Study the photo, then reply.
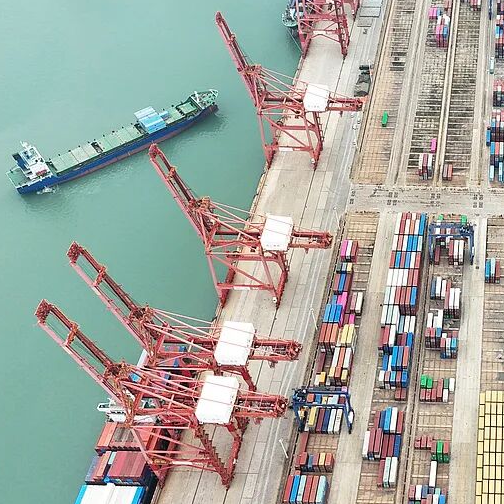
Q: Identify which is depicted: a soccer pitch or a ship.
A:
ship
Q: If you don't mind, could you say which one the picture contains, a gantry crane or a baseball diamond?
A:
gantry crane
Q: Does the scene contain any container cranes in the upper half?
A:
Yes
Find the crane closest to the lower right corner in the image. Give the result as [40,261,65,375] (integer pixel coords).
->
[289,386,353,432]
